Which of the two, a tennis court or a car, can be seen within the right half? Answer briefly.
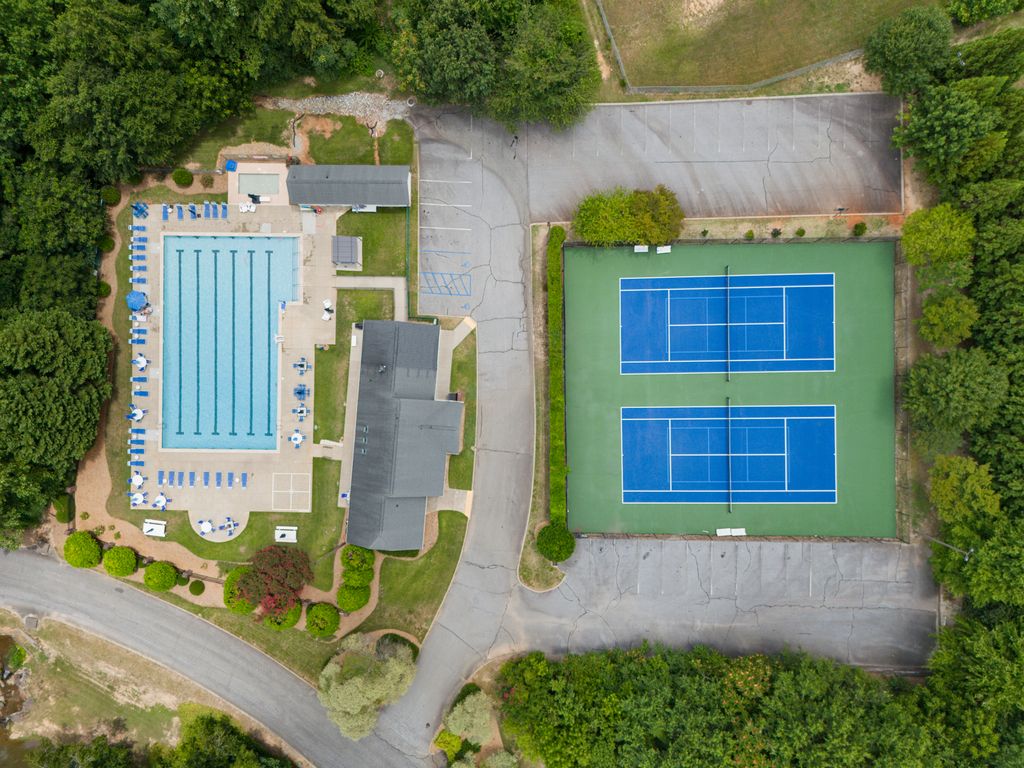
tennis court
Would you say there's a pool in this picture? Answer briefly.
Yes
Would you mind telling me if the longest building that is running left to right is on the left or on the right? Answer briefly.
left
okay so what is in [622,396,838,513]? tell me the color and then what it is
blue tennis court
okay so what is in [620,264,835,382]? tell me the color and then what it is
blue tennis court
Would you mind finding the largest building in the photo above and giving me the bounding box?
[345,320,464,550]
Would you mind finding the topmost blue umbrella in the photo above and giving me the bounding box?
[223,158,238,173]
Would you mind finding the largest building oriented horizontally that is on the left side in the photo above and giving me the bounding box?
[286,165,412,207]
